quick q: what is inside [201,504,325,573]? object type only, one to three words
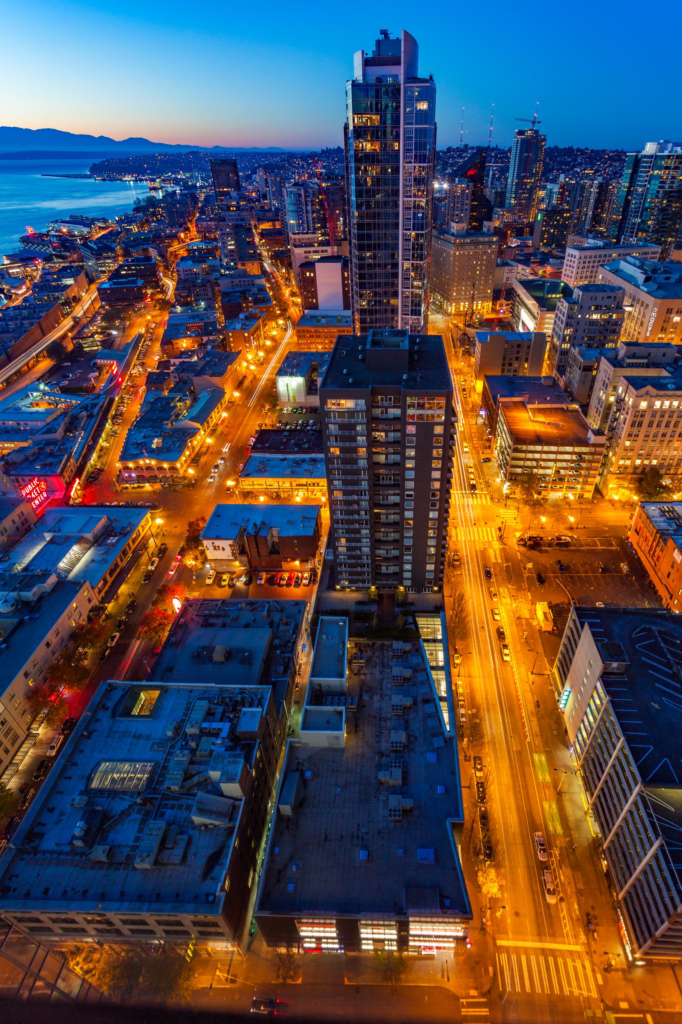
building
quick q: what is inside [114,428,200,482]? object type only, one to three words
building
